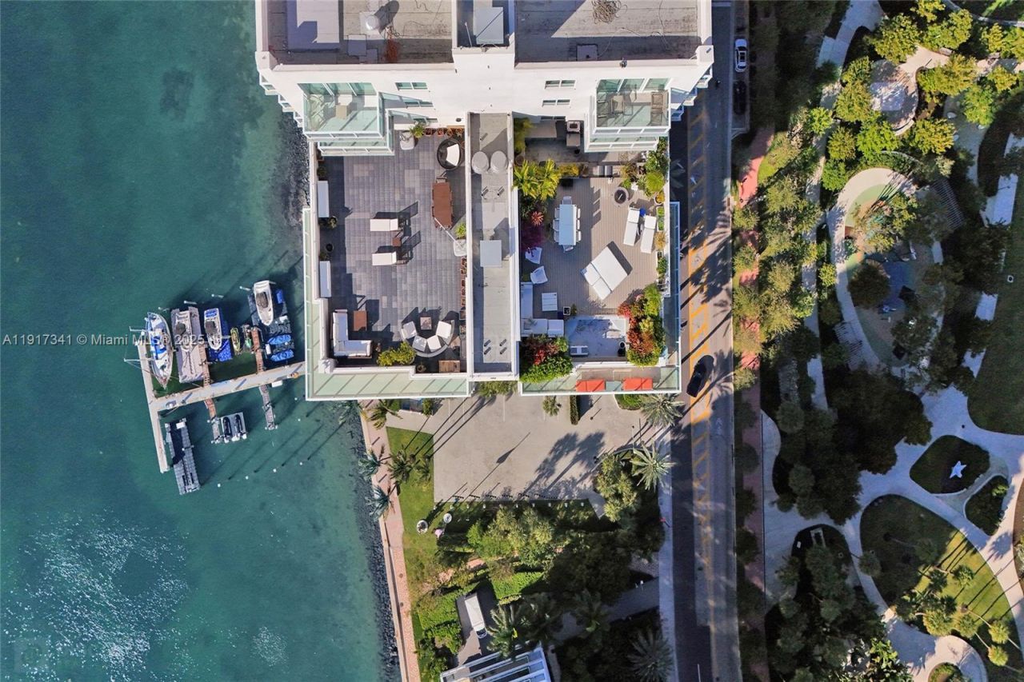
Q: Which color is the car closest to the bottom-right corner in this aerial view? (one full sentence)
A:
In this view, the car closest to the bottom-right corner is black.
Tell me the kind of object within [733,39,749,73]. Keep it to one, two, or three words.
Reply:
car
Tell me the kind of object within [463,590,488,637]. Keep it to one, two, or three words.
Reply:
vehicle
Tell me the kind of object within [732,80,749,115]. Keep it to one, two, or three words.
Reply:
car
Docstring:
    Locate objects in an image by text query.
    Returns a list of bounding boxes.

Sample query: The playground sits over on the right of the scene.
[827,167,942,375]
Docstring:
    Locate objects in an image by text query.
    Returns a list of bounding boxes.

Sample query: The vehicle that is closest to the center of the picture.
[686,357,713,395]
